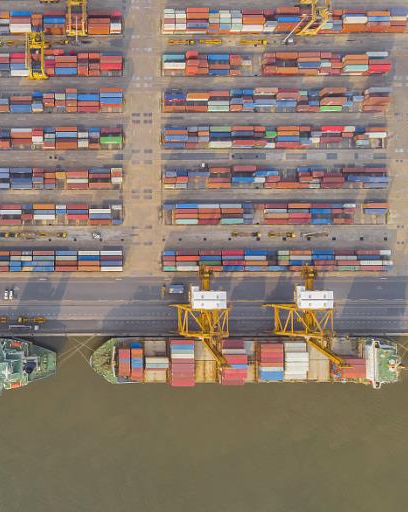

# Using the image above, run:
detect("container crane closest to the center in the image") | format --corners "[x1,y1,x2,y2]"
[172,263,234,367]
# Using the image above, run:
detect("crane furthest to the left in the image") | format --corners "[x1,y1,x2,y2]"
[28,29,50,81]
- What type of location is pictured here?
port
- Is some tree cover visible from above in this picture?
No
